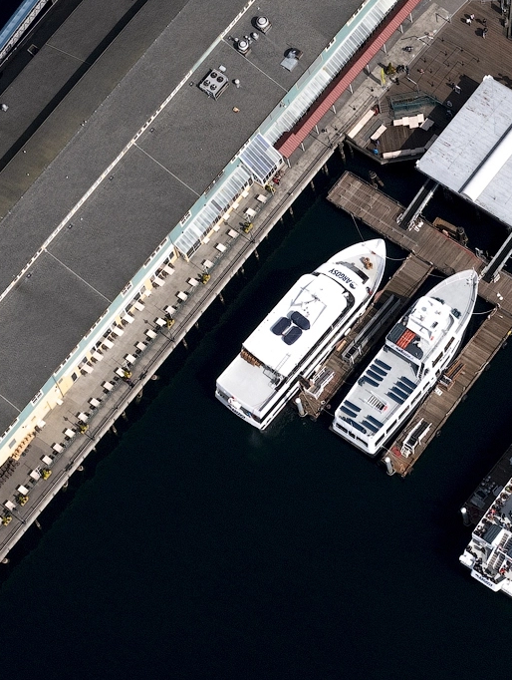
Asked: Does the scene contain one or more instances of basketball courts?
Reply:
No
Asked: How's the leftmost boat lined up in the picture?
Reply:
on a diagonal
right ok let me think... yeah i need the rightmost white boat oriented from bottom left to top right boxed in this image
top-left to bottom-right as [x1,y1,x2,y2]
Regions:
[328,268,478,458]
